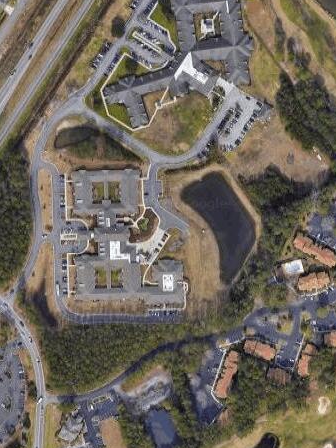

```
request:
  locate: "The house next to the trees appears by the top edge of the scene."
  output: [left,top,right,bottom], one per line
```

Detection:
[105,0,255,129]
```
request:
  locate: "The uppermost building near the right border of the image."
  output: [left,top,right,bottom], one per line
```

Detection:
[291,230,336,269]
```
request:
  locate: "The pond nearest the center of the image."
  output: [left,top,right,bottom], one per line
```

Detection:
[183,171,257,284]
